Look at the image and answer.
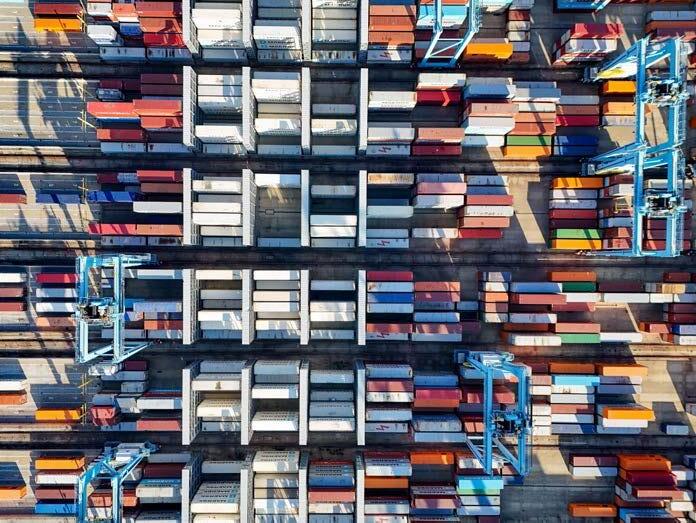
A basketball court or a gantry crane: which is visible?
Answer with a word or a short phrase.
gantry crane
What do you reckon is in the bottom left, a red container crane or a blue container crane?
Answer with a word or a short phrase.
blue container crane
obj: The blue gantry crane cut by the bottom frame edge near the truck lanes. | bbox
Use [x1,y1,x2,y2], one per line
[71,439,160,523]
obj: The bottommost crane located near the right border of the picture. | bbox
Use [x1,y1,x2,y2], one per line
[579,149,689,257]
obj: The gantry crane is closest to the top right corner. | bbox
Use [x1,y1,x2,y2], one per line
[580,38,689,165]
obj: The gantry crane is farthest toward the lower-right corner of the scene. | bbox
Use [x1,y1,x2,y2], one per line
[456,347,536,473]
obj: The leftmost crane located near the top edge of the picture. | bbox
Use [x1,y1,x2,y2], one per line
[412,0,485,71]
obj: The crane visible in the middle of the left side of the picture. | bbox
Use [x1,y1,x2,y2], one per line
[72,250,163,362]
